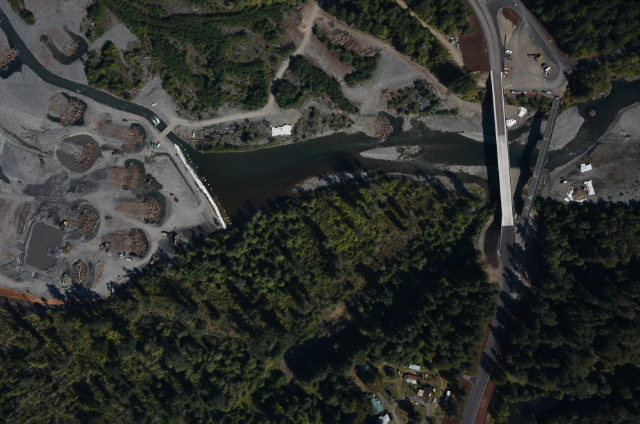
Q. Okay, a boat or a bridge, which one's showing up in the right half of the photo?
bridge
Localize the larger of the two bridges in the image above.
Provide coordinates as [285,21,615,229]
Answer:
[491,73,514,226]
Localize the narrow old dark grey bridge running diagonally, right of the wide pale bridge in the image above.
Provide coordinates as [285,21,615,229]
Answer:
[517,96,559,222]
